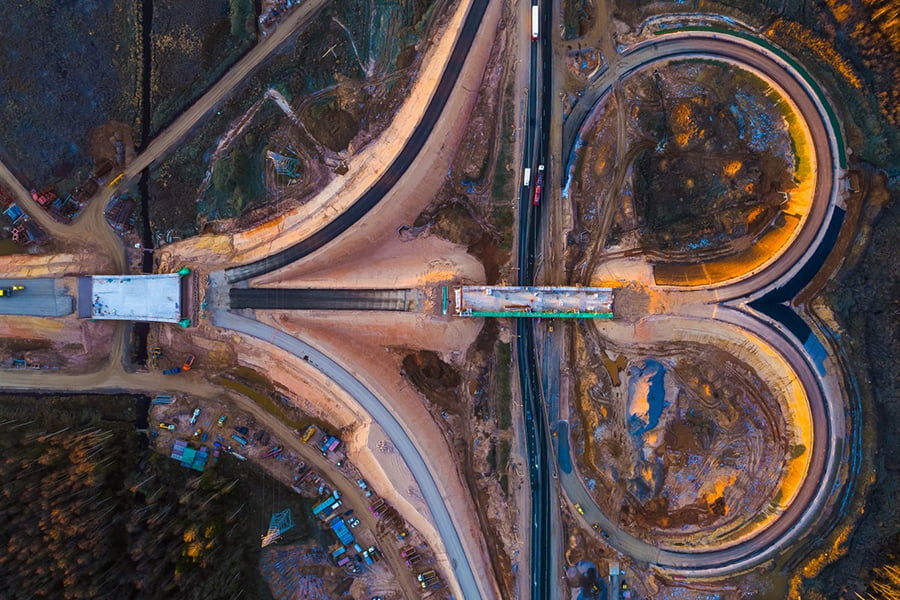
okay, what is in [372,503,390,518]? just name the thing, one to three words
vehicle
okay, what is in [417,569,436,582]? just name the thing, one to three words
vehicle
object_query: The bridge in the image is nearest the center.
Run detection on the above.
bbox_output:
[452,287,613,319]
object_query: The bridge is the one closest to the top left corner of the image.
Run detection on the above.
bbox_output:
[78,273,186,325]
